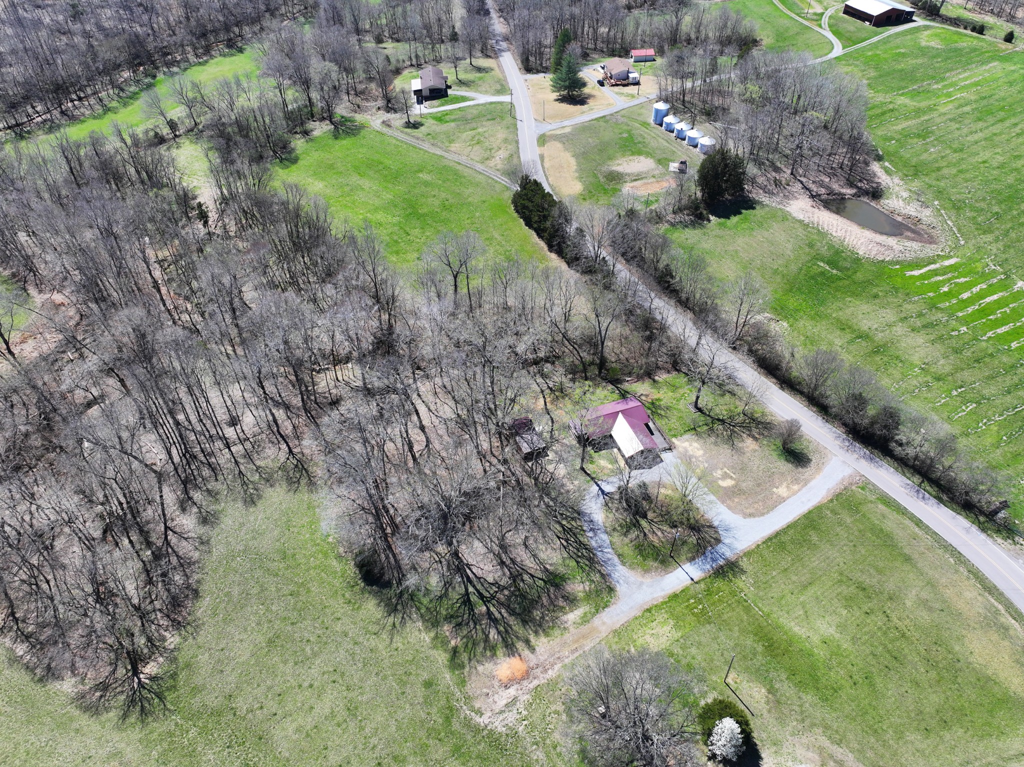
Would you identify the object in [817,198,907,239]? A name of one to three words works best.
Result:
pond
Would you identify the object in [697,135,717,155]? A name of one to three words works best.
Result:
silo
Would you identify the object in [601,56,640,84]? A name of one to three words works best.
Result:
house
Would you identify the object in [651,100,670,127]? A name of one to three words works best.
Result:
silo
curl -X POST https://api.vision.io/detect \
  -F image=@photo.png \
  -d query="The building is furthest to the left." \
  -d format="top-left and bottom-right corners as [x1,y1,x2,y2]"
[411,66,448,96]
